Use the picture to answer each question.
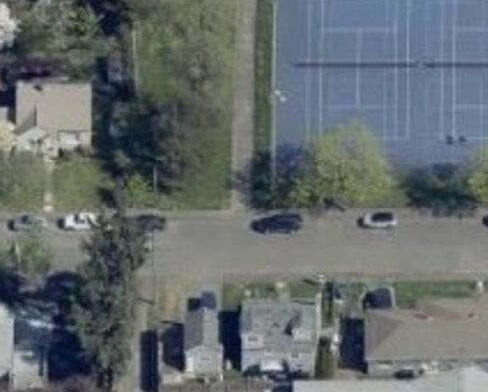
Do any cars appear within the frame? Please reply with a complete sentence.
Yes, you can see a car in this photo.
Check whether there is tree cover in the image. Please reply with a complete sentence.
Yes, tree cover shows up in the scene.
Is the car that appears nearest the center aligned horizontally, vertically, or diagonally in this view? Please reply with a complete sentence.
Seen from above, the car that appears nearest the center lies horizontally.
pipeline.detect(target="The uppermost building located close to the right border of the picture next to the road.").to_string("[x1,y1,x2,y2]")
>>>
[366,299,488,376]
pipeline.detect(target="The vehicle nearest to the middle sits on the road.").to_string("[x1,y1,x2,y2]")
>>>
[254,214,300,235]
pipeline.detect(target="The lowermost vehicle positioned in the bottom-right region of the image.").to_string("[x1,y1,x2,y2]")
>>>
[372,290,390,309]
